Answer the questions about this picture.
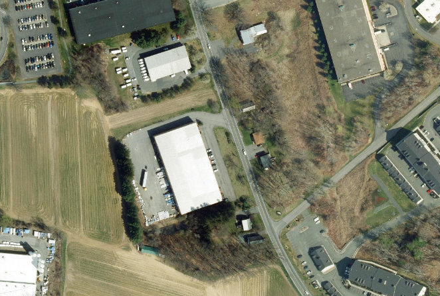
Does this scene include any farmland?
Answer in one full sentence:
Yes, farmland can be seen from above here.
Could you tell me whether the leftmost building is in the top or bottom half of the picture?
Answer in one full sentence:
It is in the bottom half that the leftmost building appears.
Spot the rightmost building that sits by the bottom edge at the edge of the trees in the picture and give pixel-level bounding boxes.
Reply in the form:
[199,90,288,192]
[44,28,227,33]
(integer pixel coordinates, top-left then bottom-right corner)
[349,261,427,296]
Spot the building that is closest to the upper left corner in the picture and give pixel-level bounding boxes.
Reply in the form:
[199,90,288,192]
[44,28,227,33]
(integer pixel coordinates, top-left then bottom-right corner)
[70,0,175,46]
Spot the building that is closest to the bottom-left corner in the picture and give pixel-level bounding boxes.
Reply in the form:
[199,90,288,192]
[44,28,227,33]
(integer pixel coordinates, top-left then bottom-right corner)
[0,244,38,296]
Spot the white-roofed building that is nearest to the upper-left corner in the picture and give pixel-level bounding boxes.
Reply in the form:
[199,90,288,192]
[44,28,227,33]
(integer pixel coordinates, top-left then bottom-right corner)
[145,46,191,82]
